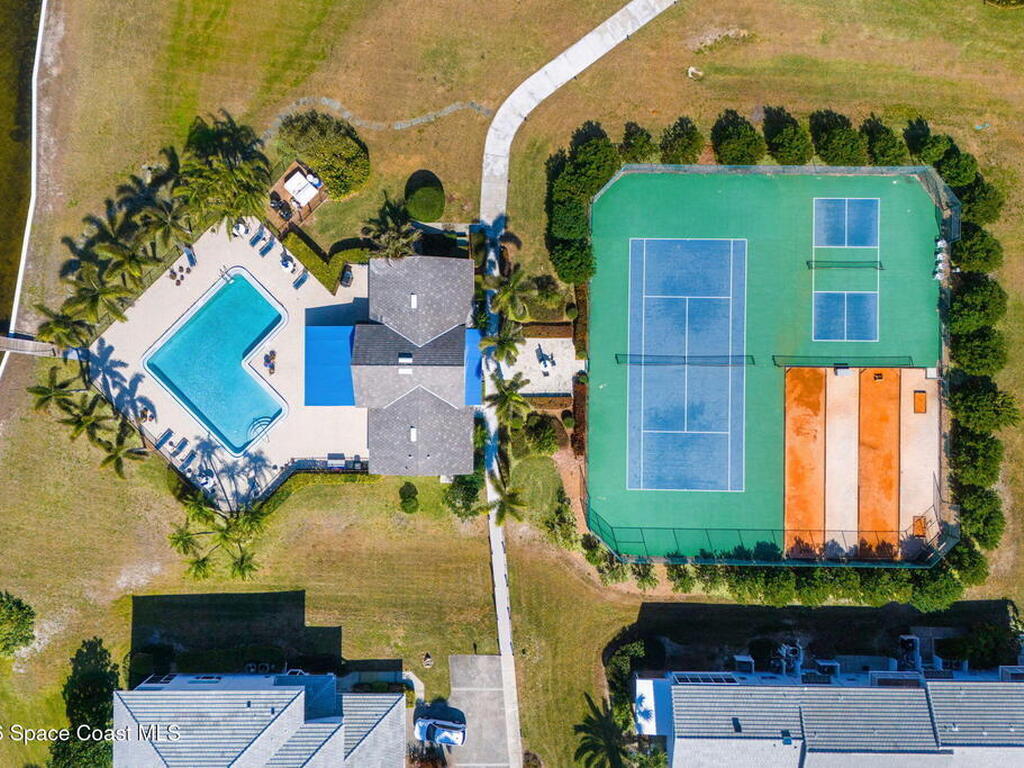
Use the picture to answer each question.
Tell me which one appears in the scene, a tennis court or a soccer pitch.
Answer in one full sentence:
I can see a tennis court in this picture.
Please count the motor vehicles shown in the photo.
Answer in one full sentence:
My tally gives 1 motor vehicle in this photo.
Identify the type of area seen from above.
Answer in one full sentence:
It's a residential area.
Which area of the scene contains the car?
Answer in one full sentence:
The car is in the bottom part of the image.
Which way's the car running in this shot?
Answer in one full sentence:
Seen from above, the car lies horizontally.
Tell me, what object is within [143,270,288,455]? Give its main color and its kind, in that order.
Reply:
blue swimming pool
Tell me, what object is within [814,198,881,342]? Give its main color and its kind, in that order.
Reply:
blue sports court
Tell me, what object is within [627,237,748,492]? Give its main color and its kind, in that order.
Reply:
blue tennis court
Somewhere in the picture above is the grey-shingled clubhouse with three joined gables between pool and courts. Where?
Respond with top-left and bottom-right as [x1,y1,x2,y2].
[351,255,474,476]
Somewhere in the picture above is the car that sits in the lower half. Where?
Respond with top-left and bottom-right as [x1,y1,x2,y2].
[415,718,468,746]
